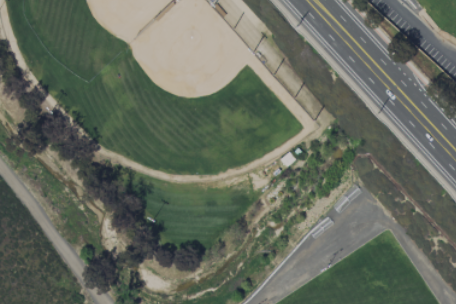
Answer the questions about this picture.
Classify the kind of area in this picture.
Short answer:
sports ground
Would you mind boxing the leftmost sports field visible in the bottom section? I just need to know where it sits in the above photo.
[142,176,255,254]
